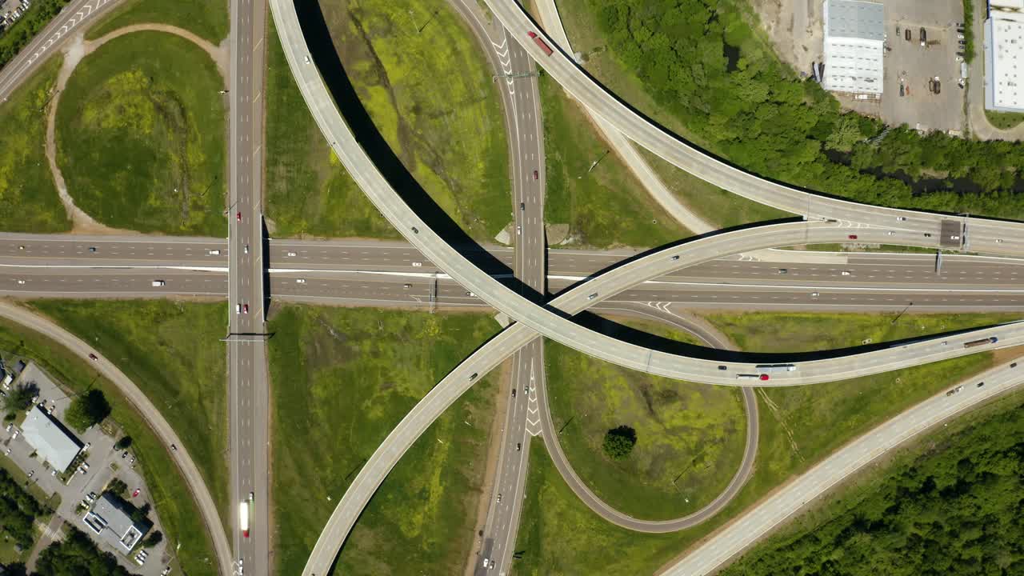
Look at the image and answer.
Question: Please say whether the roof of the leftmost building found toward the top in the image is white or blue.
white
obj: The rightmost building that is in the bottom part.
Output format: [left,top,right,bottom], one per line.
[82,491,149,556]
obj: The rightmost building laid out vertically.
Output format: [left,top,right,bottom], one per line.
[980,17,1024,112]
